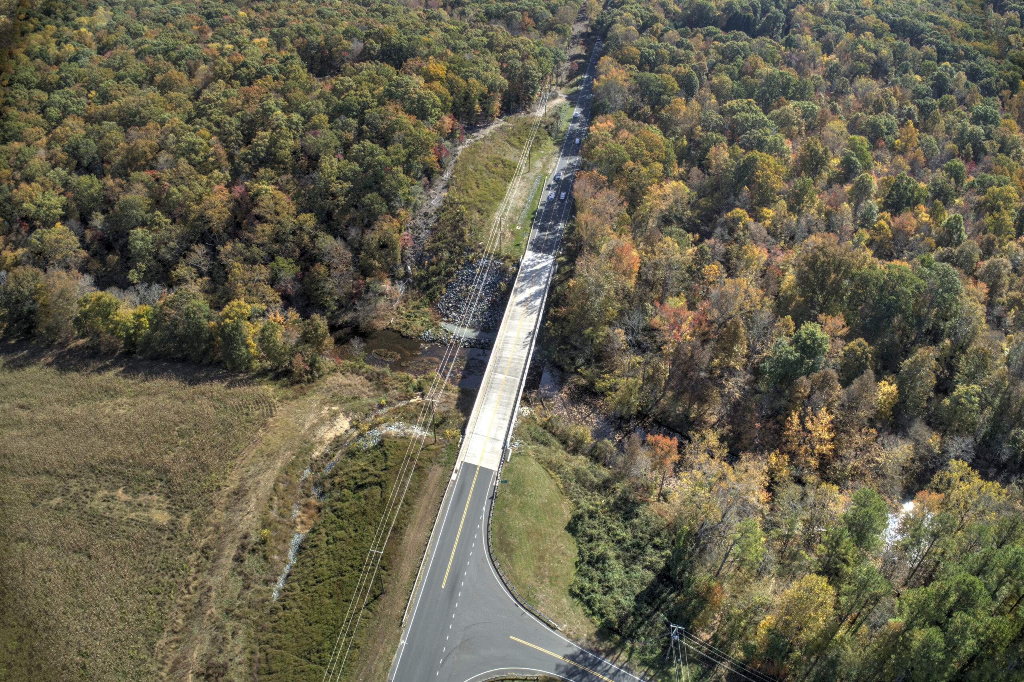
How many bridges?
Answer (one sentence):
Only 1 bridge is visible.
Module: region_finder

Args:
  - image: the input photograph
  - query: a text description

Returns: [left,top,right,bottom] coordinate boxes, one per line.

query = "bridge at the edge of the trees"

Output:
[449,246,560,487]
